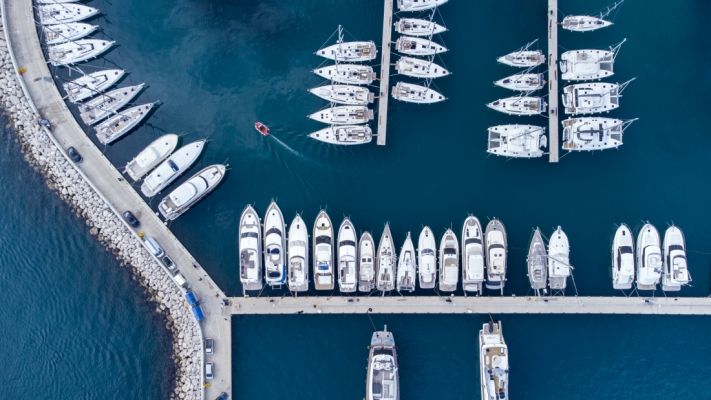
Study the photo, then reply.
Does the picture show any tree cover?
No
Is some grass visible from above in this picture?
No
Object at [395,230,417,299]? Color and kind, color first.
white boat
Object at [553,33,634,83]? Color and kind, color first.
white boat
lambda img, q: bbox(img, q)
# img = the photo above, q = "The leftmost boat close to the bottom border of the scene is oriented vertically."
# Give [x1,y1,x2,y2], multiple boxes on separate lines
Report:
[364,315,399,400]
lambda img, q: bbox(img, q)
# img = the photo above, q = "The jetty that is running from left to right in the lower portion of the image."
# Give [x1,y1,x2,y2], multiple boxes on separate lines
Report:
[231,294,711,316]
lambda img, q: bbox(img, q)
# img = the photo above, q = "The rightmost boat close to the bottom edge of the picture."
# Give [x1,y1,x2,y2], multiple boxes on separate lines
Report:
[478,315,509,400]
